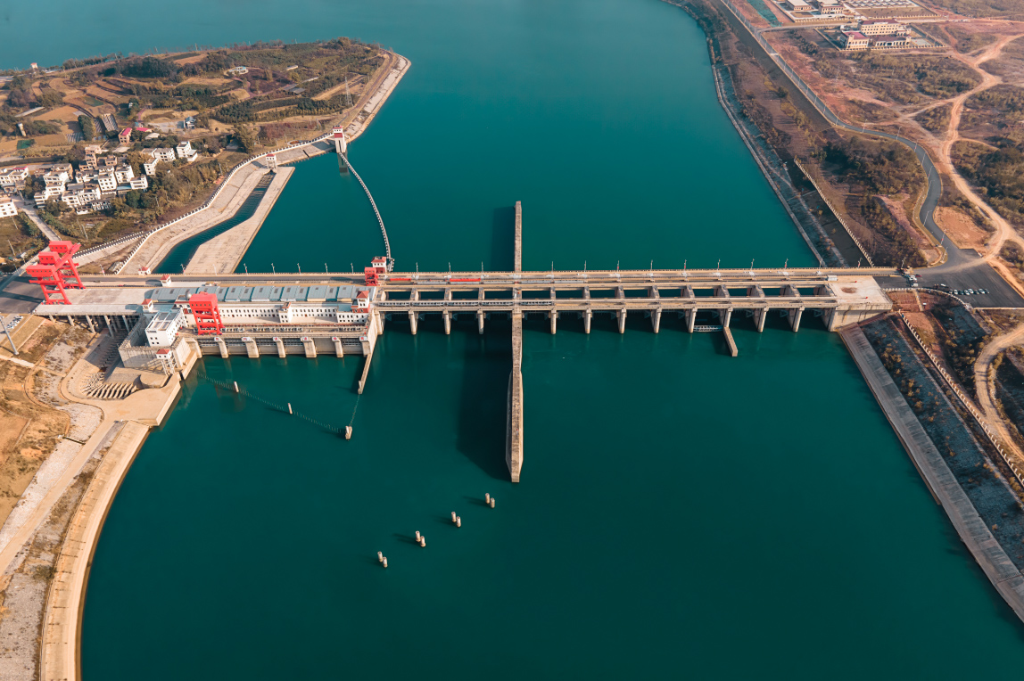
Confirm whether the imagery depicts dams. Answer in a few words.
Yes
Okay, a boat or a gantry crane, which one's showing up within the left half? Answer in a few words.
gantry crane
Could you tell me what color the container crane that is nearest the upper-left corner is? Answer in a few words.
red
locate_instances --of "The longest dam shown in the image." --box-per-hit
[43,267,892,334]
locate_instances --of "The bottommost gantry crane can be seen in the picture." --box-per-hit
[187,293,227,334]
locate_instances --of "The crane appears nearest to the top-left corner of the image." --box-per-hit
[26,237,86,304]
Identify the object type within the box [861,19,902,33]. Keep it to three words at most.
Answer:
building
